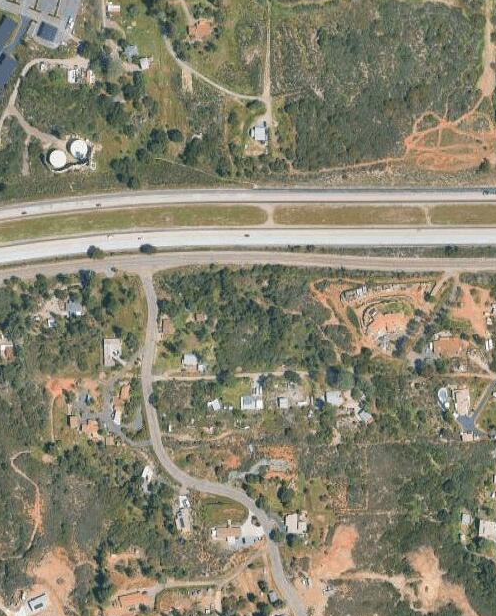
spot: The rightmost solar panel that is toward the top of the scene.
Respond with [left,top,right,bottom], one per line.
[37,21,58,41]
